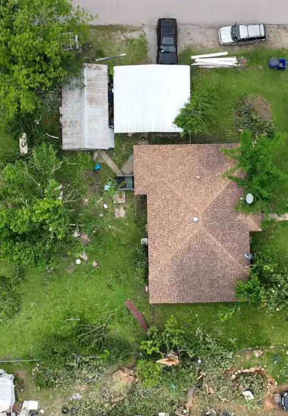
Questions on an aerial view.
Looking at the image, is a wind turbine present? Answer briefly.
No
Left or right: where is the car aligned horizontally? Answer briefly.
right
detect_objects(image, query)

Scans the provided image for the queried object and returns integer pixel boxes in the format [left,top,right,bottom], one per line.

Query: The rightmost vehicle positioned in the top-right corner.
[216,25,267,48]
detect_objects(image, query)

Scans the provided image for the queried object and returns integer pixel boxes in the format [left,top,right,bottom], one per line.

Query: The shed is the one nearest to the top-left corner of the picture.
[59,63,113,150]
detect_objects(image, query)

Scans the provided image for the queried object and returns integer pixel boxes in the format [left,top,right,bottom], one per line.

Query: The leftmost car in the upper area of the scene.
[155,16,180,65]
